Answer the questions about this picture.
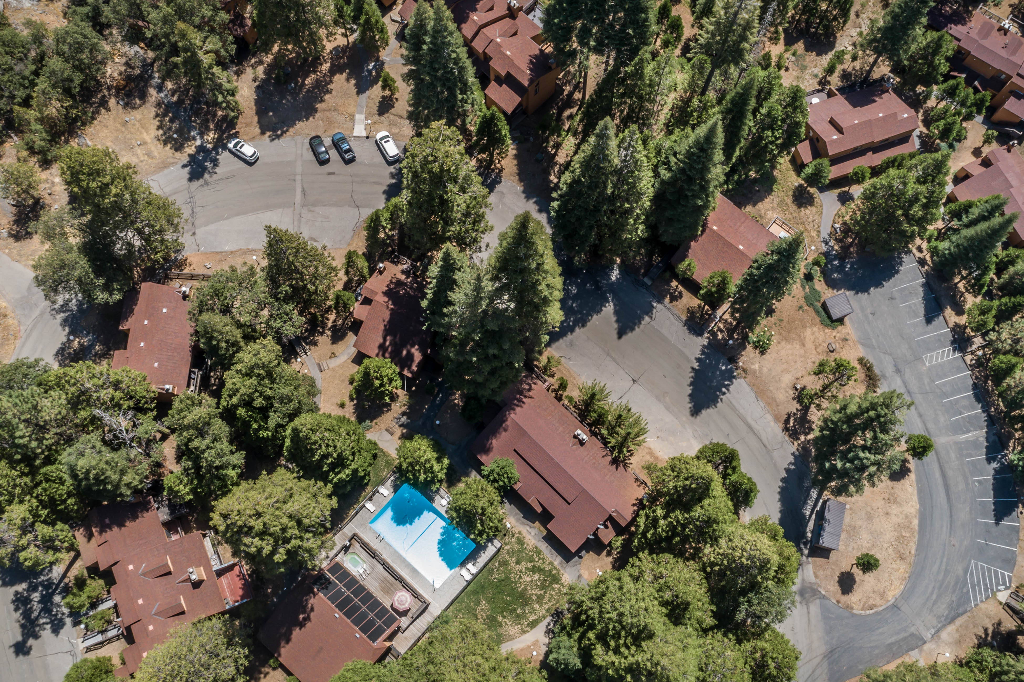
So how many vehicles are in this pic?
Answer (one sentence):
The count of vehicles comes to 4.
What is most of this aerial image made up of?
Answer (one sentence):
The scene is dominated by trees.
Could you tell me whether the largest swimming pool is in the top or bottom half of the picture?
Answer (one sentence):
Seen from above, the largest swimming pool lies in the bottom half of the view.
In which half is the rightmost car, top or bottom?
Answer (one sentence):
Seen from above, the rightmost car lies in the top half of the view.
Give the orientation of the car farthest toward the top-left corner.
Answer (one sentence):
In this picture, the car farthest toward the top-left corner is oriented at an angle.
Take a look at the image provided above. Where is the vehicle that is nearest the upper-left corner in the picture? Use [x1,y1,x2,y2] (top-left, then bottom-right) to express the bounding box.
[227,138,260,165]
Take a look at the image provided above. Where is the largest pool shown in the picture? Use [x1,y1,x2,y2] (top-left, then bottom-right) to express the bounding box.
[353,468,501,604]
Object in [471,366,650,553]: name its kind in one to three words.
building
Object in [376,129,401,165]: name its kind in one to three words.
car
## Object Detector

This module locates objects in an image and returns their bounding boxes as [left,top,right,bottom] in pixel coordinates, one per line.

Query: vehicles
[309,133,332,166]
[227,138,260,165]
[376,129,401,165]
[332,130,357,165]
